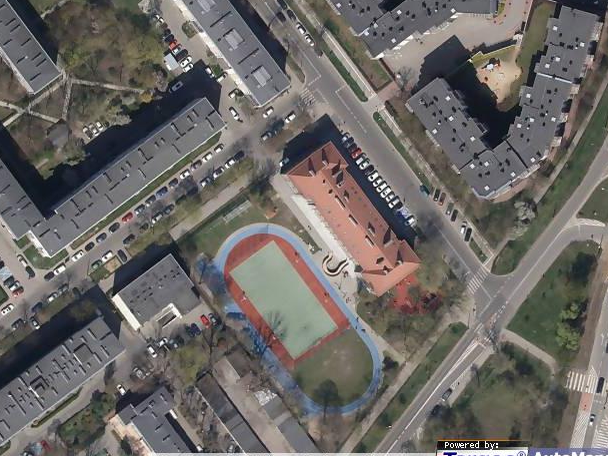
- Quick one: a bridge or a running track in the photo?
running track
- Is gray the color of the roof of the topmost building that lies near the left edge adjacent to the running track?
Yes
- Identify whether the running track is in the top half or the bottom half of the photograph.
bottom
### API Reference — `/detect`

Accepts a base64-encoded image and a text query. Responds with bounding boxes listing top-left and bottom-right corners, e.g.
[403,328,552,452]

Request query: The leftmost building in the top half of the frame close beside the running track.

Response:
[0,97,225,257]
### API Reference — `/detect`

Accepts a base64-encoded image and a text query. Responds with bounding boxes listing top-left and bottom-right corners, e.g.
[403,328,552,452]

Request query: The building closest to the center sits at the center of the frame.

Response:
[283,140,421,296]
